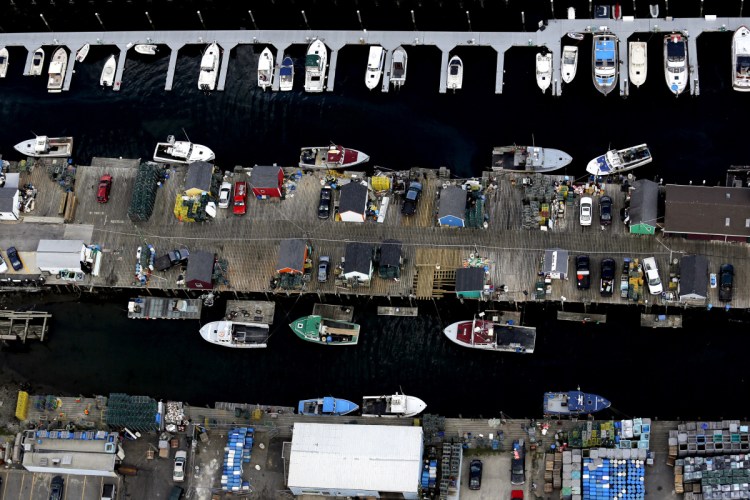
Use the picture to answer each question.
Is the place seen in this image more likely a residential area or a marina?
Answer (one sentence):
What you see here is a marina.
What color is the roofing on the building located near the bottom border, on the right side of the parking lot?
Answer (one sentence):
From above, the roof of the building located near the bottom border, on the right side of the parking lot looks white.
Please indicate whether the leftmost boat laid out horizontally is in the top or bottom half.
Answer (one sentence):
It is in the top half that the leftmost boat laid out horizontally appears.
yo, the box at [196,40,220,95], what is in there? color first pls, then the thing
white boat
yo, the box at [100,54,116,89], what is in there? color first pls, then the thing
white boat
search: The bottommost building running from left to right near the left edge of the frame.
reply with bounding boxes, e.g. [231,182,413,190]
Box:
[23,438,125,474]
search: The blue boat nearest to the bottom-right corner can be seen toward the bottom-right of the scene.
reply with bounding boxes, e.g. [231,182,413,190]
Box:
[543,392,611,417]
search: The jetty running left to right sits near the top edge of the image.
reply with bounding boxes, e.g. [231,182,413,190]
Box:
[0,18,750,97]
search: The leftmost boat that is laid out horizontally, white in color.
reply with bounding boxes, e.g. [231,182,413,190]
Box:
[14,133,75,158]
